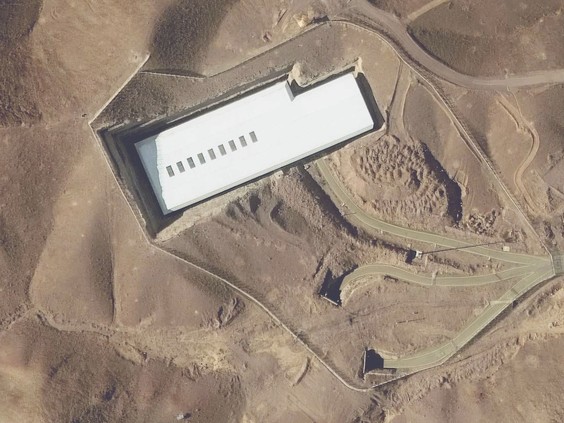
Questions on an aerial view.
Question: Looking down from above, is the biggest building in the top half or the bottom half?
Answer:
top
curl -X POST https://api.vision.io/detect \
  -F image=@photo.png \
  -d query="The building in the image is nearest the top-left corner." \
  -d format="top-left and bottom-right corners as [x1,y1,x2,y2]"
[137,74,375,213]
